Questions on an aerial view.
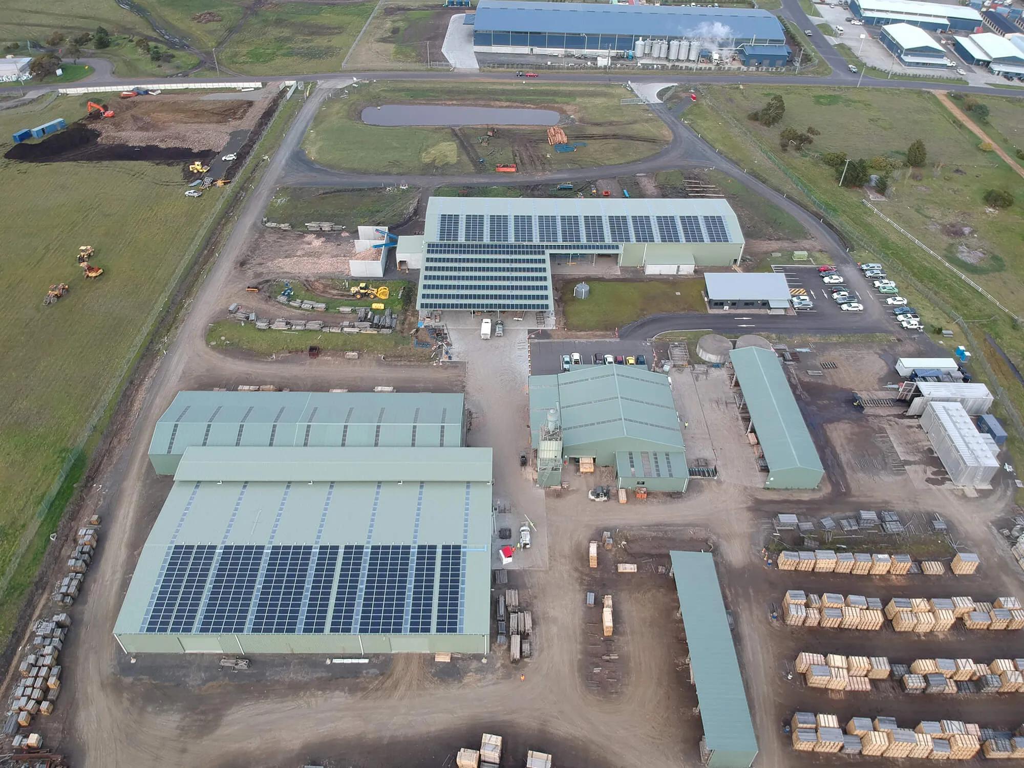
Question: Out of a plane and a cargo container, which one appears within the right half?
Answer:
cargo container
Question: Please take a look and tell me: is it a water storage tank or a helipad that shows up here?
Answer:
water storage tank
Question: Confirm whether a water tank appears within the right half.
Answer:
Yes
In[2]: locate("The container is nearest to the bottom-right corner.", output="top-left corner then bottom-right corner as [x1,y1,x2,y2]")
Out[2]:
[972,412,1010,443]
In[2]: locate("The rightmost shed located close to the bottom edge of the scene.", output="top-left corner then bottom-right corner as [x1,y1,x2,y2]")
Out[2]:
[668,549,757,766]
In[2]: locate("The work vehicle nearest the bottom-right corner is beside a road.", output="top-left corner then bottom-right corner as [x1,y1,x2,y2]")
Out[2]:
[850,394,866,407]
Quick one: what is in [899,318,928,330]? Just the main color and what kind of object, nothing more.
white vehicle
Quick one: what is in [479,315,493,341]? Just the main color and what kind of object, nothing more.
white vehicle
